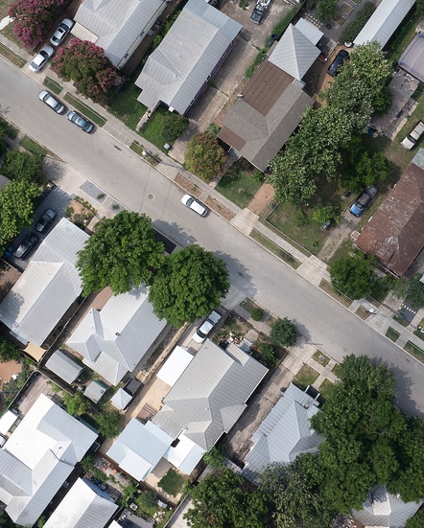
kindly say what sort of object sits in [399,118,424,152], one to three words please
truck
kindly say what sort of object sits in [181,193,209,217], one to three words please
car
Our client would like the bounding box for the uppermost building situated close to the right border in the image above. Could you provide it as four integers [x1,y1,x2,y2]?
[354,0,412,48]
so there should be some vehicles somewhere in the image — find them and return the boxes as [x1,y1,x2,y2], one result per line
[324,51,349,82]
[29,45,55,73]
[350,182,380,219]
[0,434,9,450]
[49,18,75,45]
[66,110,96,134]
[251,0,271,28]
[181,193,209,217]
[13,231,40,261]
[399,118,424,152]
[34,206,60,235]
[39,92,67,115]
[192,311,223,343]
